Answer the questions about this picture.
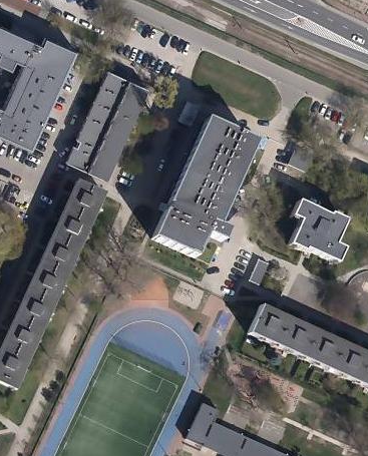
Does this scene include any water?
No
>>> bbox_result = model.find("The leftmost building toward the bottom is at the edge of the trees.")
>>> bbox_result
[0,179,107,389]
